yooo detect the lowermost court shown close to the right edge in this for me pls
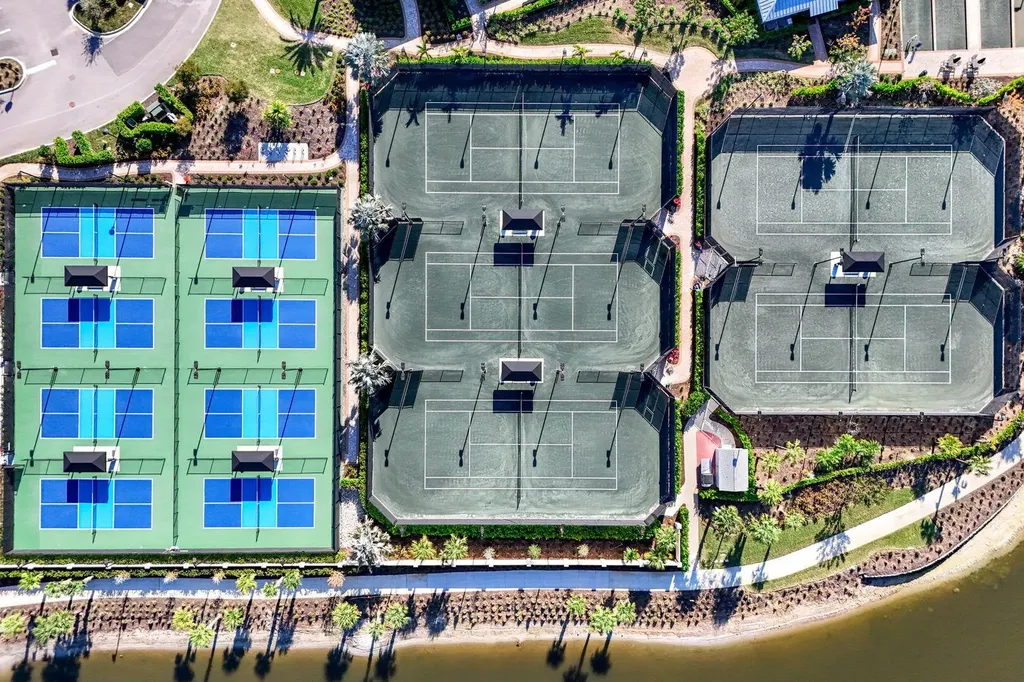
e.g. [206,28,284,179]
[706,265,1003,413]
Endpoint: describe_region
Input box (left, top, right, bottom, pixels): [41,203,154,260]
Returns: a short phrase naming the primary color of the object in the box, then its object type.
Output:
blue sports court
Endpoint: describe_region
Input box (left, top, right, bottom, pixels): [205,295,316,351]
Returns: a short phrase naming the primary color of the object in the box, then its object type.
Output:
blue sports court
